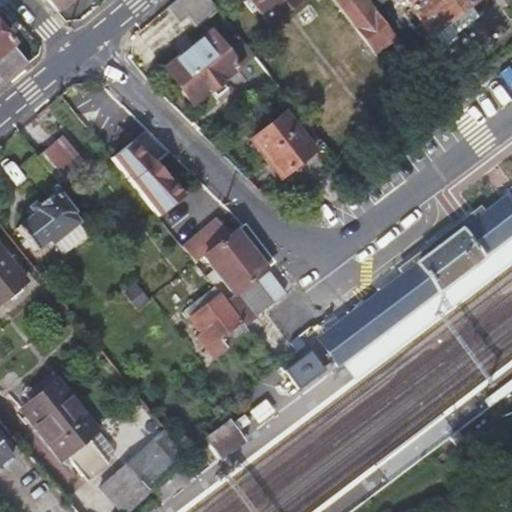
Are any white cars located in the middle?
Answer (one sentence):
Yes, in the middle there is a white car.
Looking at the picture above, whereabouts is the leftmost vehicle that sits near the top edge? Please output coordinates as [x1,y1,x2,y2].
[18,8,36,28]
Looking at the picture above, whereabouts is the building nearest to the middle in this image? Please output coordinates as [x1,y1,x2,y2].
[184,216,286,324]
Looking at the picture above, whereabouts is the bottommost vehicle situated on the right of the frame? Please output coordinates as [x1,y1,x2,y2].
[298,269,320,288]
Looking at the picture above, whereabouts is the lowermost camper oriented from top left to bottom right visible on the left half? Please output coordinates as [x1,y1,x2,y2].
[0,158,28,188]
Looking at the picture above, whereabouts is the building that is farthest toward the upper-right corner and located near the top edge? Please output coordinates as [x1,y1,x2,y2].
[410,0,480,45]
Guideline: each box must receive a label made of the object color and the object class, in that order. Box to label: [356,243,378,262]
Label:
white car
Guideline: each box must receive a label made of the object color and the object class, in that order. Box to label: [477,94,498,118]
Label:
white vehicle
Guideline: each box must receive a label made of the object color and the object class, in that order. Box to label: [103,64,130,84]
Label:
white vehicle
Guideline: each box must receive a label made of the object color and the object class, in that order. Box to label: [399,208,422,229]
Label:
white car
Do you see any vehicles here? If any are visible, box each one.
[0,158,28,188]
[103,64,130,84]
[356,243,378,262]
[28,482,49,500]
[424,135,440,155]
[18,8,36,28]
[468,104,486,126]
[322,204,340,224]
[298,269,320,288]
[376,172,394,190]
[376,228,400,250]
[166,202,188,222]
[178,218,198,238]
[477,94,498,118]
[500,64,512,88]
[489,80,512,108]
[340,219,361,236]
[396,156,413,176]
[399,208,422,229]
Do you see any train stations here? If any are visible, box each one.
[318,187,512,389]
